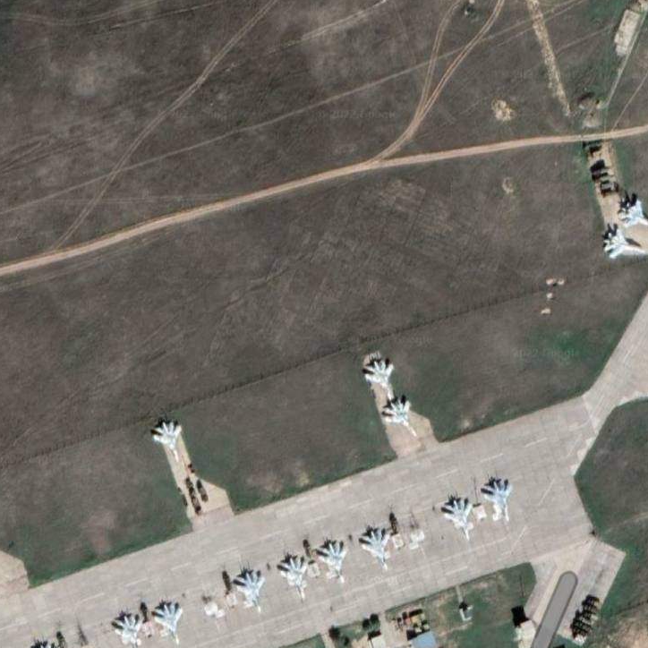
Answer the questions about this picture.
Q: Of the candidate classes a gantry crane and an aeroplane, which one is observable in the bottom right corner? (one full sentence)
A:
It is an aeroplane that can be seen in the bottom right corner.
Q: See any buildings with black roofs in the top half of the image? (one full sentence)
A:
No, I can find no building with a black roof in the top half of the image.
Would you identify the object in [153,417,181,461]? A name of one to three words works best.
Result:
airplane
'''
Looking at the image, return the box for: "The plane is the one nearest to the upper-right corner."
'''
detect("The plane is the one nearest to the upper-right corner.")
[619,199,648,226]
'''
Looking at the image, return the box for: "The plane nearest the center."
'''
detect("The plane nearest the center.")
[365,355,392,400]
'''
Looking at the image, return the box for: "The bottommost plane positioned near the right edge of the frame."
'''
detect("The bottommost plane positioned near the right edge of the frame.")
[608,229,648,257]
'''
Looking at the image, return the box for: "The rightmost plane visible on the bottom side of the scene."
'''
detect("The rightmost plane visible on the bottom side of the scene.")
[485,477,513,520]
